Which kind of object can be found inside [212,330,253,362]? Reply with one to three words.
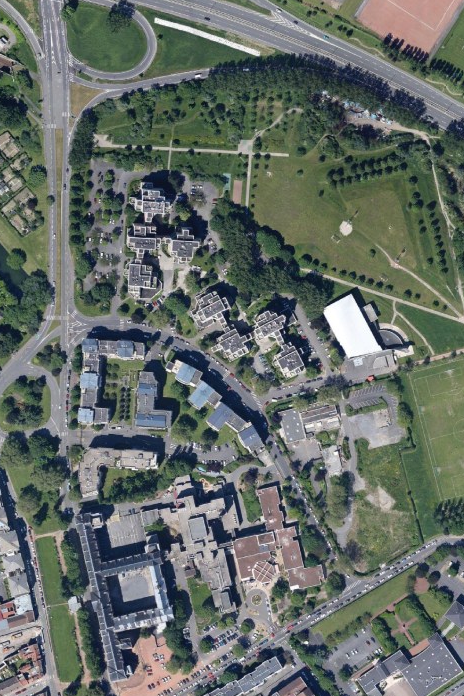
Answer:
building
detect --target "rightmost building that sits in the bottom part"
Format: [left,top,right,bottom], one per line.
[445,601,464,629]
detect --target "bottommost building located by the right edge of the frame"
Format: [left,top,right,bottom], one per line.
[357,632,464,696]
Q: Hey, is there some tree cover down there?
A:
Yes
